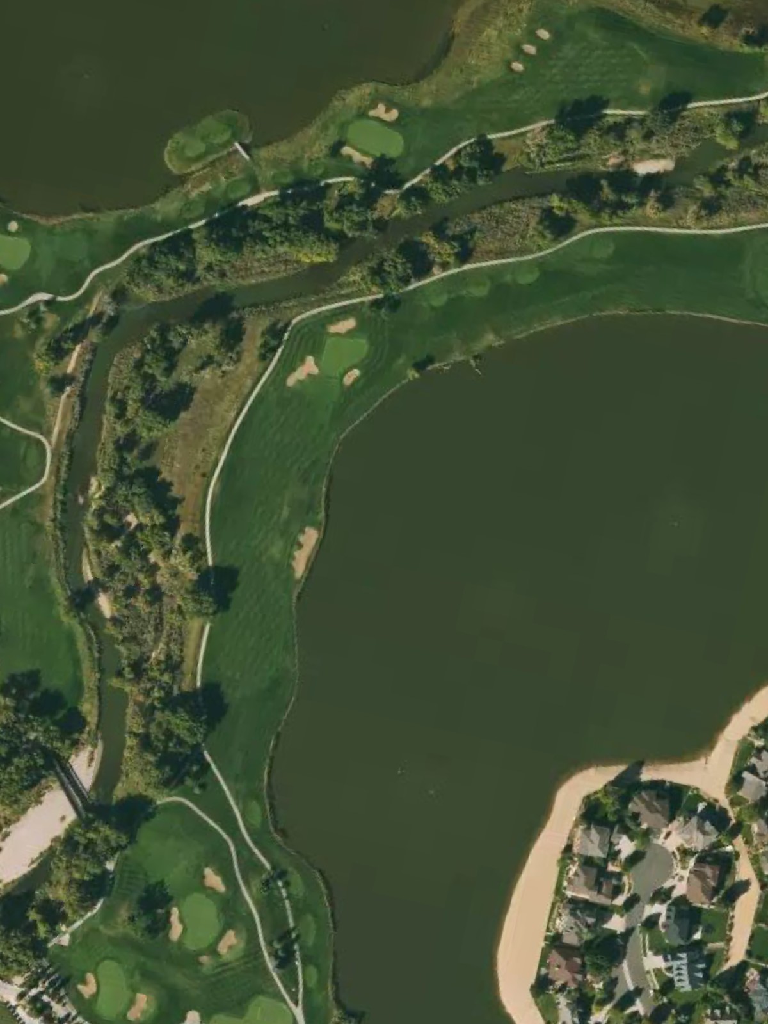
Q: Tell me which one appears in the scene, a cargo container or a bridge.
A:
bridge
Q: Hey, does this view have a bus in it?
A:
No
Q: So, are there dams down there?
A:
No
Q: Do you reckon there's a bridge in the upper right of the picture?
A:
No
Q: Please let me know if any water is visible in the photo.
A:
Yes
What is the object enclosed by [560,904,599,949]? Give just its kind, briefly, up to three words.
house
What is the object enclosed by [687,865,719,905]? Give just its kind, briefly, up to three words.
house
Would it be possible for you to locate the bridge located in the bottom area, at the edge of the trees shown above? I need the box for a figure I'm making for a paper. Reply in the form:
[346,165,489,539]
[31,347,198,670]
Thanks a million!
[48,754,91,820]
